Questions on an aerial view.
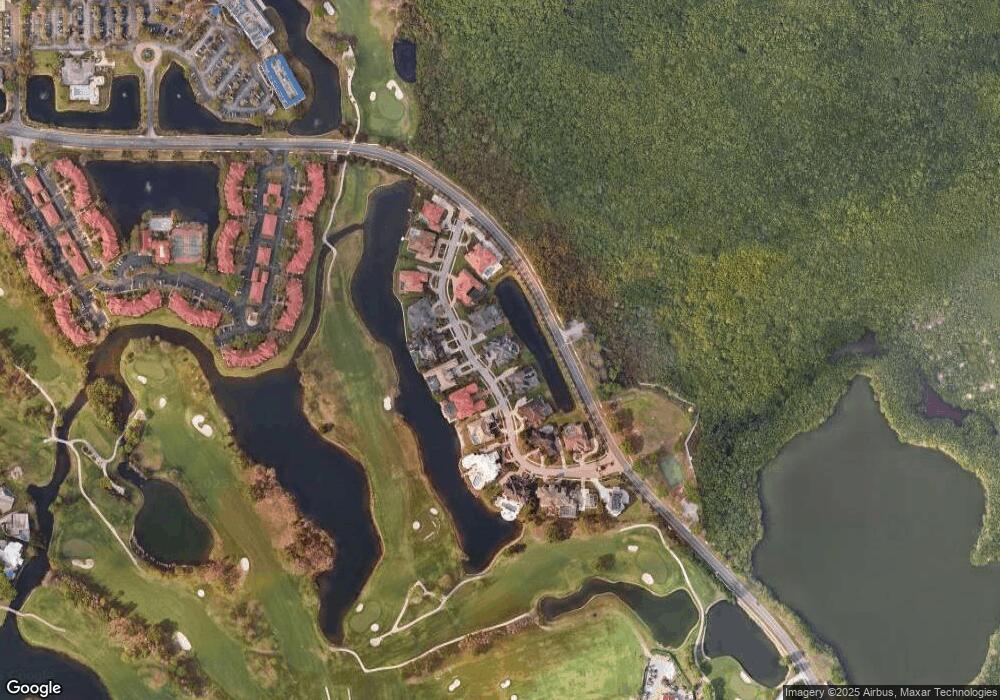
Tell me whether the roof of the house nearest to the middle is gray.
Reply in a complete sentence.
Yes, the roof of the house nearest to the middle is gray.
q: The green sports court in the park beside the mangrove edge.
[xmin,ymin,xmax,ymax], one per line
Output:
[661,456,684,490]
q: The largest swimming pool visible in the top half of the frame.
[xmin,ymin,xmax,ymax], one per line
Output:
[148,216,172,231]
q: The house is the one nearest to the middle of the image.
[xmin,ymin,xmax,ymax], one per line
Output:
[479,337,521,364]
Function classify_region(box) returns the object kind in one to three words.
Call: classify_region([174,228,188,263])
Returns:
tennis court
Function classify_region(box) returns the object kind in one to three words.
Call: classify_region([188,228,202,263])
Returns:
tennis court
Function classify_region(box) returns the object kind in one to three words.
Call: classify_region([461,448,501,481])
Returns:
house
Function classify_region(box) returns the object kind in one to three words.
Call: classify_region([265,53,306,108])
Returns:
building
